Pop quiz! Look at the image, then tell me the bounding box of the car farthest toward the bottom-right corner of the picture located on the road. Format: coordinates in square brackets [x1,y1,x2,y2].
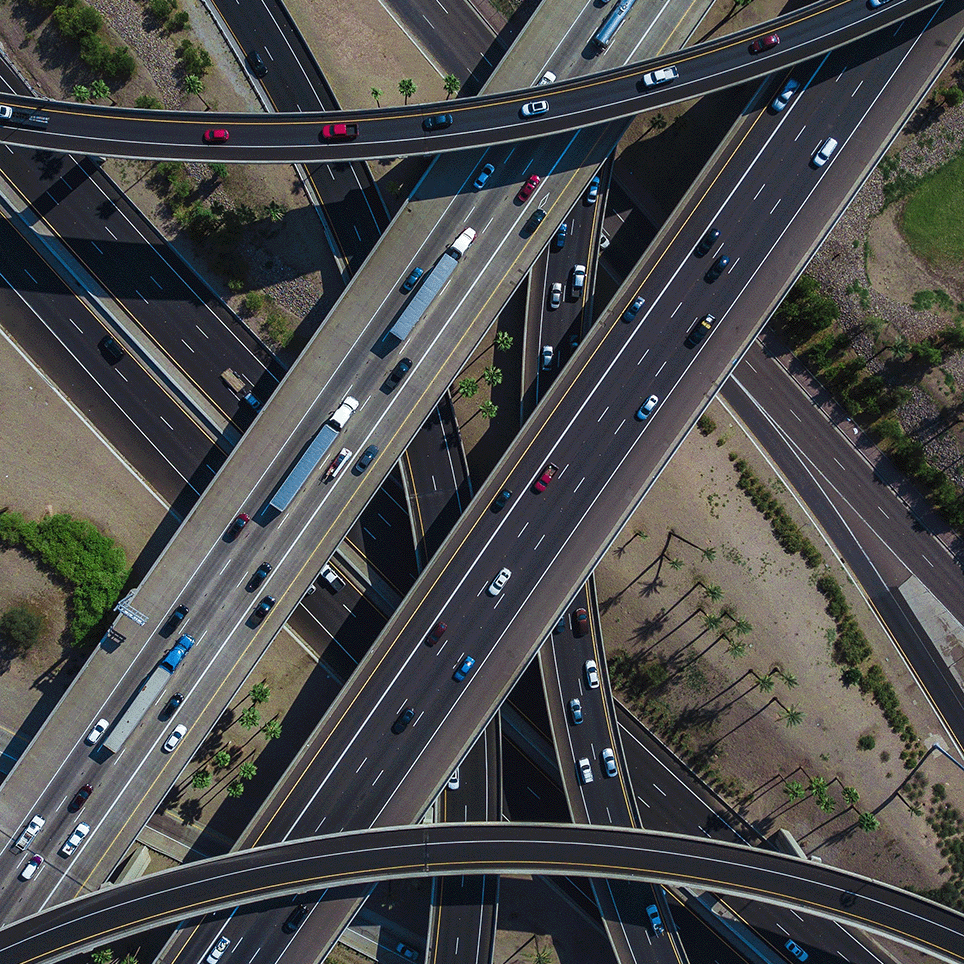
[784,939,809,961]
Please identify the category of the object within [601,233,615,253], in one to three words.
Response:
car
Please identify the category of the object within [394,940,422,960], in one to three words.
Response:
car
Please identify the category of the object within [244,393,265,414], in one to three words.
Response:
vehicle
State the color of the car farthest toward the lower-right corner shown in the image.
blue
